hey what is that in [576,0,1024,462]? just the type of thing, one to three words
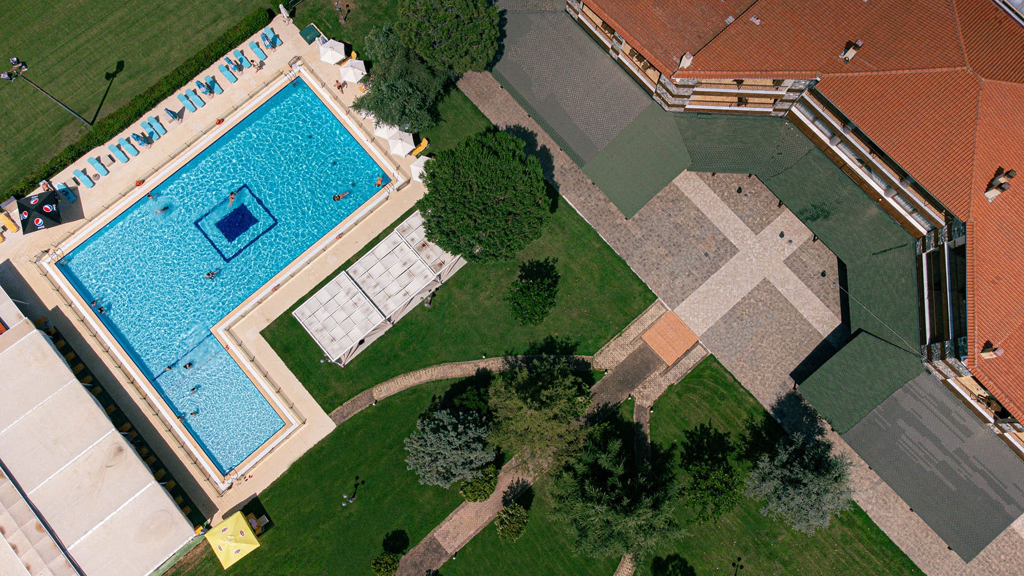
building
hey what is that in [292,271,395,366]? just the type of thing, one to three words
gazebo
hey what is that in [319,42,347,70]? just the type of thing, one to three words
umbrella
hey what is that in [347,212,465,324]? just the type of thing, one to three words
gazebo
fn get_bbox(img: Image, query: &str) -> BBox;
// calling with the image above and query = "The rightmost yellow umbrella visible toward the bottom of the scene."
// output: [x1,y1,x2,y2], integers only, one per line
[205,510,261,569]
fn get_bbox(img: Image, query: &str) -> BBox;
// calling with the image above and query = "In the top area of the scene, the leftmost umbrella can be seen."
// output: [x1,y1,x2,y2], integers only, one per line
[17,191,63,234]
